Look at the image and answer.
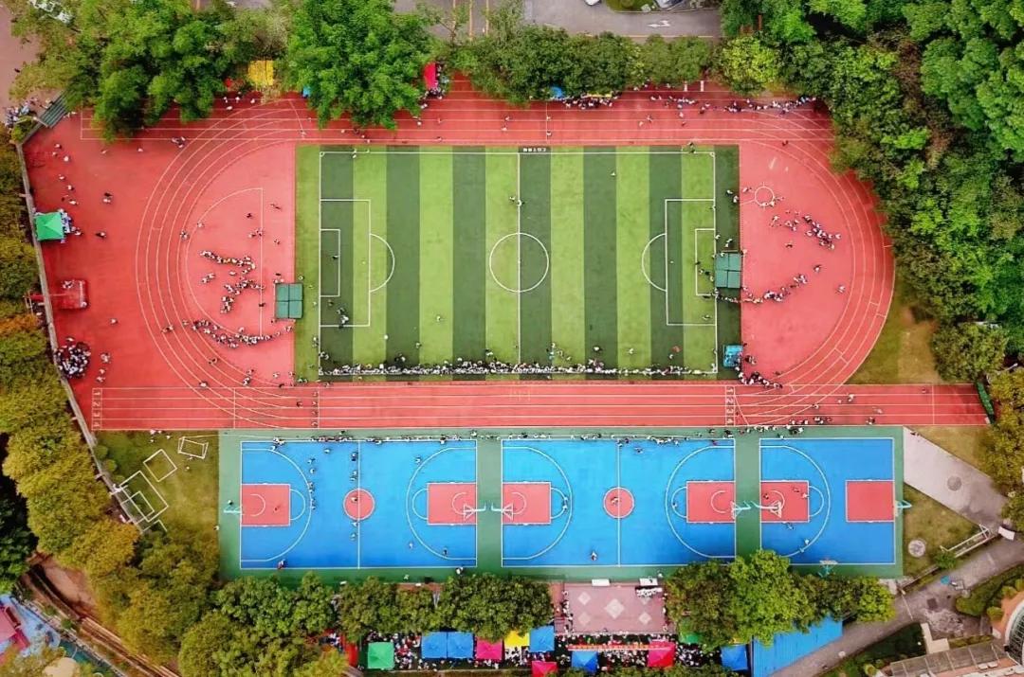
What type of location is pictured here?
sports ground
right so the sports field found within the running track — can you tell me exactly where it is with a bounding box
[294,144,741,382]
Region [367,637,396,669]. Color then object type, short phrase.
green tent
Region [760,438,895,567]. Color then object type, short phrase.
blue basketball court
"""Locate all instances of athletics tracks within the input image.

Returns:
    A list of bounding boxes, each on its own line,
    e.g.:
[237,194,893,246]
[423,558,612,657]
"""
[29,68,987,431]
